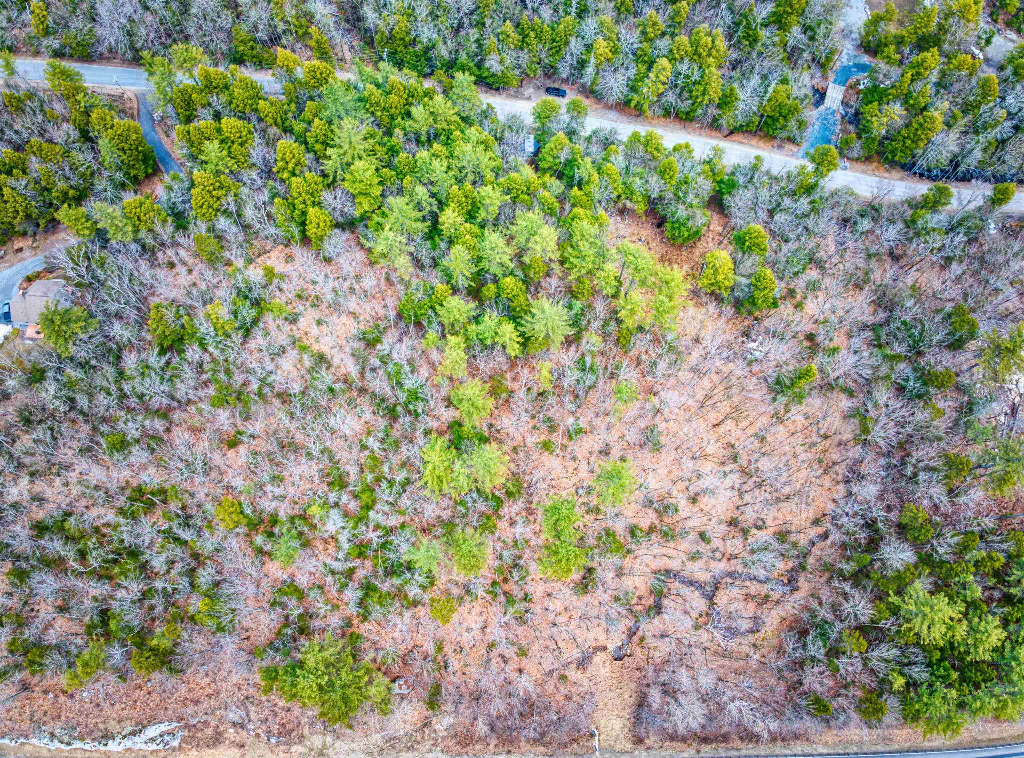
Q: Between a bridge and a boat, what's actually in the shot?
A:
bridge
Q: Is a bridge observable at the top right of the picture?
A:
Yes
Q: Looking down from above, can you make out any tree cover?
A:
Yes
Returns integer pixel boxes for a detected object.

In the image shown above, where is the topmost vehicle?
[544,85,568,99]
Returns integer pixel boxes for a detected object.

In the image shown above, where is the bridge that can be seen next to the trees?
[811,78,846,117]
